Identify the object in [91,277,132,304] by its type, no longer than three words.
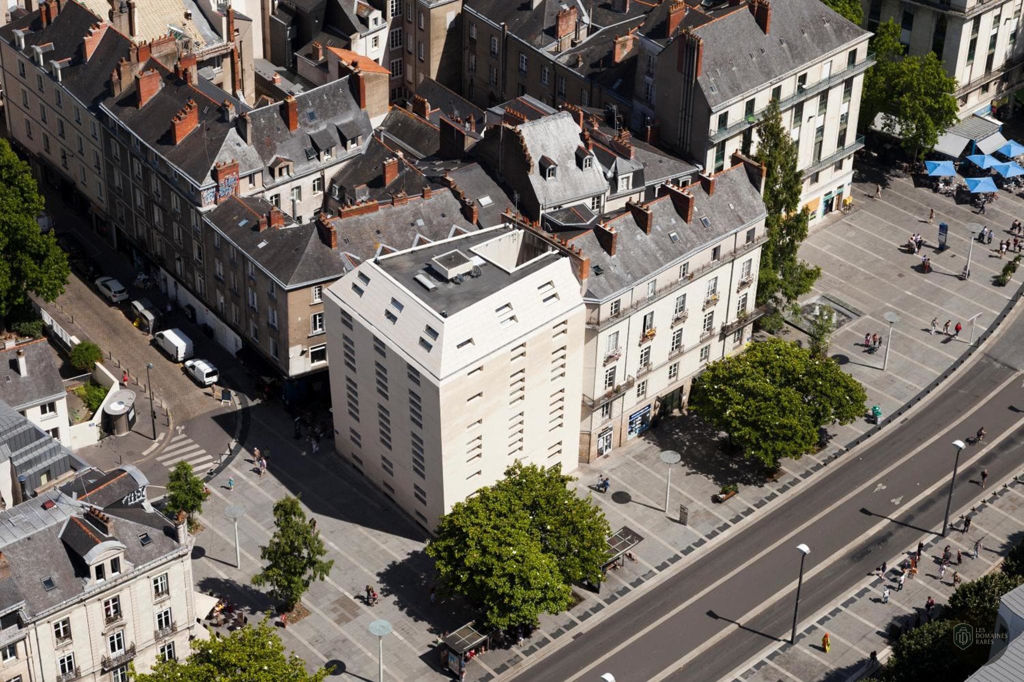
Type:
car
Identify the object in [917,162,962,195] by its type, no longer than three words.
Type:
umbrella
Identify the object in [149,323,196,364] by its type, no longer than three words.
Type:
van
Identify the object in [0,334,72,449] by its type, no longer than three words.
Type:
house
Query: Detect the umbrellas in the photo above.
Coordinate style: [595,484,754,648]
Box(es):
[988,141,1024,164]
[961,153,1002,178]
[958,178,1004,211]
[196,588,228,618]
[917,162,962,195]
[991,161,1024,195]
